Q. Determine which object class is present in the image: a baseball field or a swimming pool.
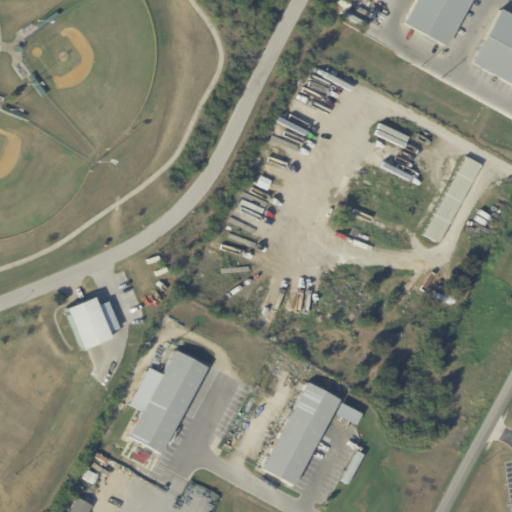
baseball field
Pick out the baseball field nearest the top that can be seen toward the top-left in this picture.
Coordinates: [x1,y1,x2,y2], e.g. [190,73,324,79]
[22,0,156,154]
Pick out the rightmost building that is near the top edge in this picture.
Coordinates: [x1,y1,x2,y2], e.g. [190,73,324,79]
[470,10,512,86]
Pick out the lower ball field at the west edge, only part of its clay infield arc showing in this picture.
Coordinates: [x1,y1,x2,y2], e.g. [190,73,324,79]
[0,119,90,238]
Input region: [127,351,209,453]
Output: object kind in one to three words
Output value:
building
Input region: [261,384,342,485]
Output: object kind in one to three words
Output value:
building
